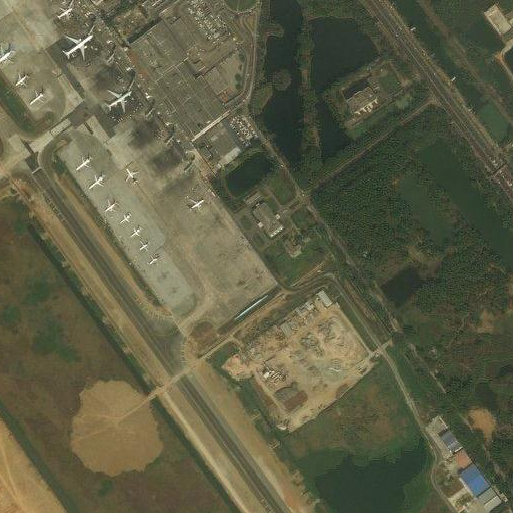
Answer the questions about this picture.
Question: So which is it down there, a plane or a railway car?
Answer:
plane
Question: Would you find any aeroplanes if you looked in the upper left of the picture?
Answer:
Yes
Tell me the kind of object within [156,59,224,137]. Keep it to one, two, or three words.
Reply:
building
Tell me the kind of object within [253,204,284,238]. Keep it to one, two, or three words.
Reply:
building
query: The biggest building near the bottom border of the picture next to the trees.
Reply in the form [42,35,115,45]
[462,464,490,497]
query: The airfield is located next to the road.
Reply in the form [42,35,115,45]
[0,0,294,513]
